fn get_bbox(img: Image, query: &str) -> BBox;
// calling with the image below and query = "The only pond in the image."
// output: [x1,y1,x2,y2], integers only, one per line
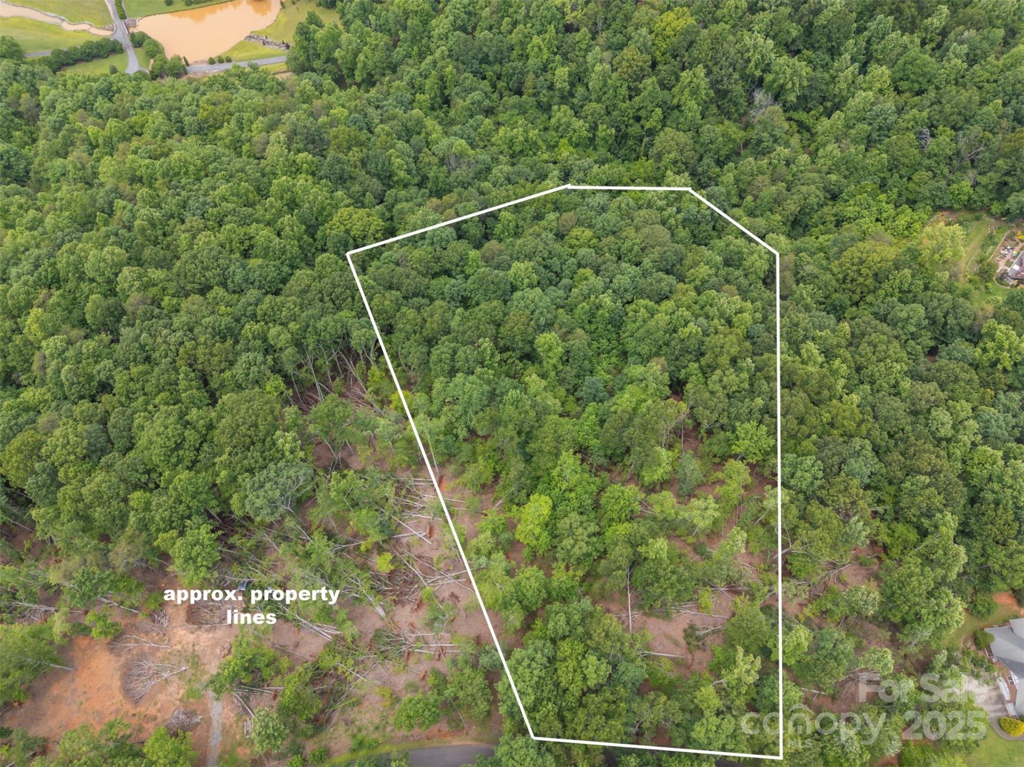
[138,0,283,62]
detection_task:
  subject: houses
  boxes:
[984,619,1024,720]
[1002,252,1024,293]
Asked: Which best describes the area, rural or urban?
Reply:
rural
